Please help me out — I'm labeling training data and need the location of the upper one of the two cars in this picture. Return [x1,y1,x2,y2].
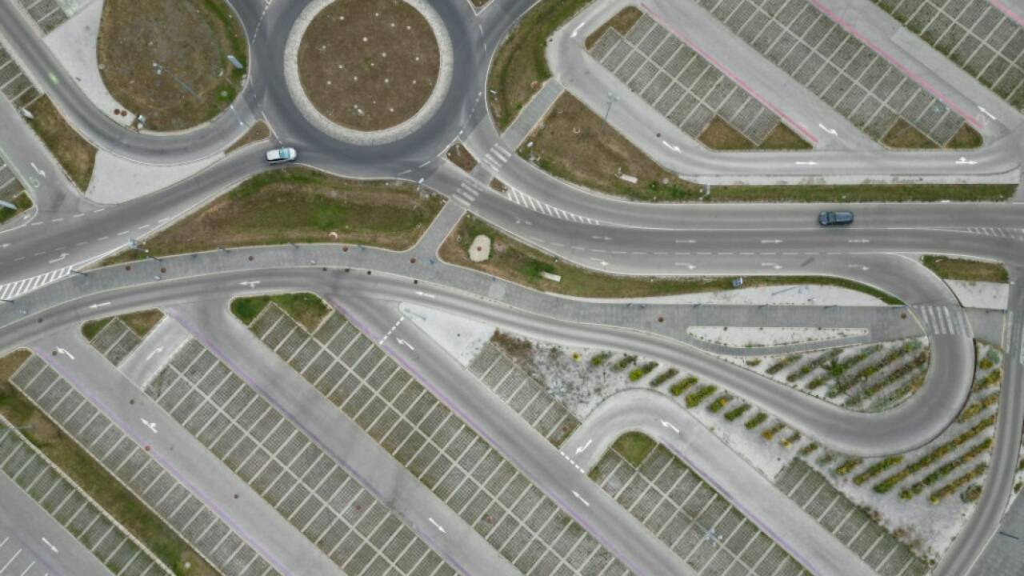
[264,147,295,164]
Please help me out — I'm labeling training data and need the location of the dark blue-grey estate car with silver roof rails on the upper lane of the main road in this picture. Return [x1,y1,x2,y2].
[818,210,855,226]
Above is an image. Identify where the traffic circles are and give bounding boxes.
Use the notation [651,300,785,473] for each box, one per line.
[227,0,537,193]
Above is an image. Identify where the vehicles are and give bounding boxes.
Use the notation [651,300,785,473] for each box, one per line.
[818,210,855,226]
[264,147,295,164]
